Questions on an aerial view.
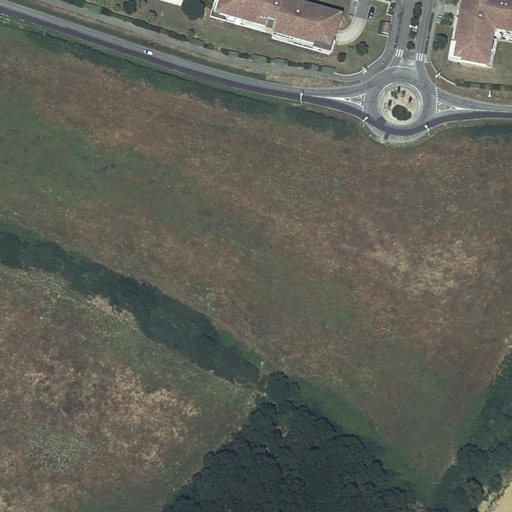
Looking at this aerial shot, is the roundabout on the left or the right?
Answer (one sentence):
The roundabout appears in the right half of the scene.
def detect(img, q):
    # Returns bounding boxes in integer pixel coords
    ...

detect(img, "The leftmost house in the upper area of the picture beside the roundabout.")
[210,0,342,56]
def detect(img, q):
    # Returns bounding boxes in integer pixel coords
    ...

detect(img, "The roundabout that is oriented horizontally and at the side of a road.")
[309,56,512,143]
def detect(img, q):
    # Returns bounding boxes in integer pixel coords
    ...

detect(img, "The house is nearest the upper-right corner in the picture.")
[448,0,512,68]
